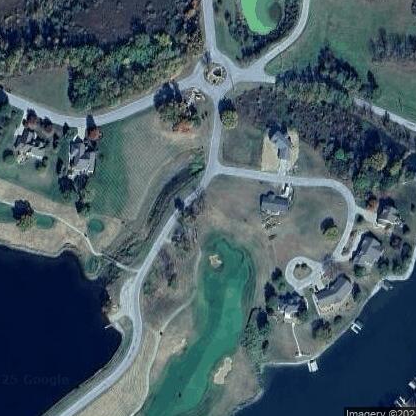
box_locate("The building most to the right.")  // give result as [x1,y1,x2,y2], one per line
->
[378,205,404,234]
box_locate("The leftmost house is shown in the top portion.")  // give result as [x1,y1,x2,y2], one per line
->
[17,127,46,159]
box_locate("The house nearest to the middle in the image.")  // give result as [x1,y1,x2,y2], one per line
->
[261,193,290,228]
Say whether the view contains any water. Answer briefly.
Yes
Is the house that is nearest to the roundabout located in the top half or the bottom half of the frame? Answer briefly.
top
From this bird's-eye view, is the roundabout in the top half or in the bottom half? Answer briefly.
top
